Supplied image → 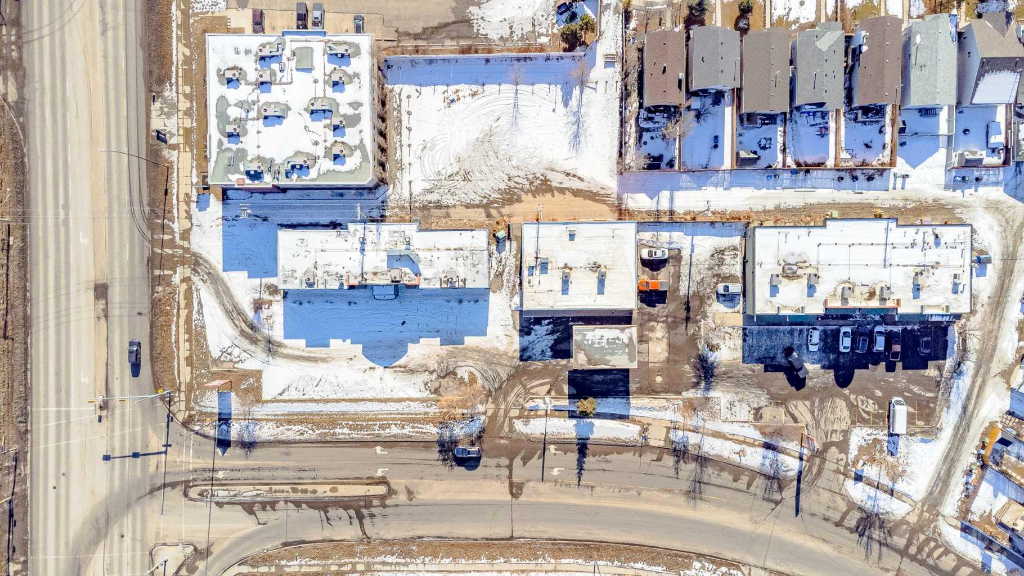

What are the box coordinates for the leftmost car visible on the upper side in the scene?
[252,8,267,33]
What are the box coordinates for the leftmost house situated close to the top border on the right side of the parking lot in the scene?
[641,28,686,118]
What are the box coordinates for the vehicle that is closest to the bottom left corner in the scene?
[126,338,142,366]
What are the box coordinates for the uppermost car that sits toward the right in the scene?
[639,247,668,259]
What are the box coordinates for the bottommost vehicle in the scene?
[455,445,482,459]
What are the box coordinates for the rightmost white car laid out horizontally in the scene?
[716,282,744,295]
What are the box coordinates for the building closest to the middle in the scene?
[522,221,637,317]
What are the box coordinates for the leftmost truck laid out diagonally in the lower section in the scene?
[783,347,809,381]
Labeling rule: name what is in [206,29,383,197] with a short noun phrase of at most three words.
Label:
building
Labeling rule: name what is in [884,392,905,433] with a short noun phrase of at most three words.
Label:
vehicle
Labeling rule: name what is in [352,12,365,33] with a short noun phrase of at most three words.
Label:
vehicle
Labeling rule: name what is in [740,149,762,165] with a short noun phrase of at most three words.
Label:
shed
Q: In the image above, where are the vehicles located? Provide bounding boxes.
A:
[295,0,309,29]
[884,392,905,433]
[637,278,668,292]
[783,347,809,381]
[126,338,142,366]
[854,327,868,354]
[887,328,903,360]
[871,325,886,353]
[352,12,365,33]
[252,8,267,33]
[311,0,325,29]
[455,445,482,459]
[716,282,744,295]
[806,326,821,350]
[639,247,668,259]
[837,325,852,353]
